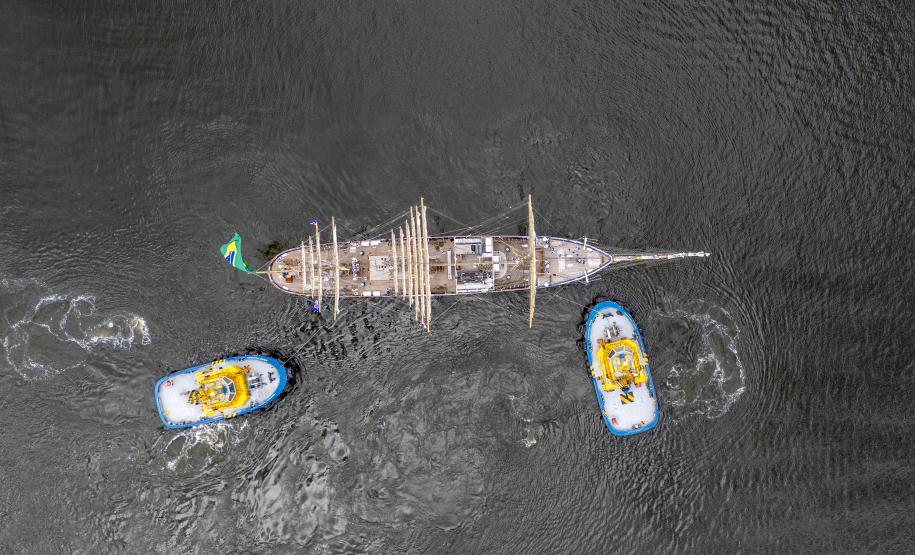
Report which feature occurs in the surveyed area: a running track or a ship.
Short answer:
ship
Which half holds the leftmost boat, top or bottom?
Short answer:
bottom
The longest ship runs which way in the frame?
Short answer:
from side to side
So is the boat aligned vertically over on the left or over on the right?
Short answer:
right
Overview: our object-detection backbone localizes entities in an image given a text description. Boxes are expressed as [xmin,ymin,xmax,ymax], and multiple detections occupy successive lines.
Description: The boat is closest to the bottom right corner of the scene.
[580,296,659,436]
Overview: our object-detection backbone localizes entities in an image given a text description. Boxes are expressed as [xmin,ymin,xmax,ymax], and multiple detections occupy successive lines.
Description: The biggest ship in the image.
[256,195,710,332]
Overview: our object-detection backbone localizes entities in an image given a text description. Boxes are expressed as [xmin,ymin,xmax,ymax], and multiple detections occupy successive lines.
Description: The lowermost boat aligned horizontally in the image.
[157,349,295,427]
